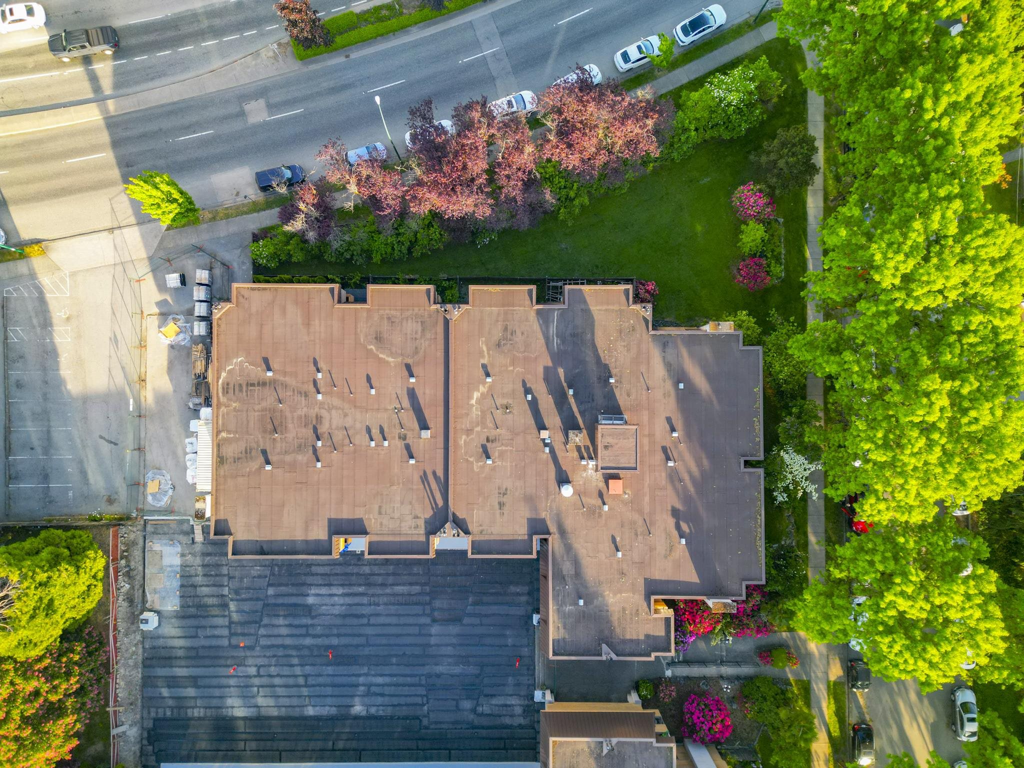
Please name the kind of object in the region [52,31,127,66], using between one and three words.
truck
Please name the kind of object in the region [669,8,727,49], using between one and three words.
car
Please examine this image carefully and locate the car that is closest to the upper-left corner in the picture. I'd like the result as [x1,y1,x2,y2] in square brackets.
[0,5,53,36]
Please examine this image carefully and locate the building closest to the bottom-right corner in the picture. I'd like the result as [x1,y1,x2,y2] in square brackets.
[540,685,738,768]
